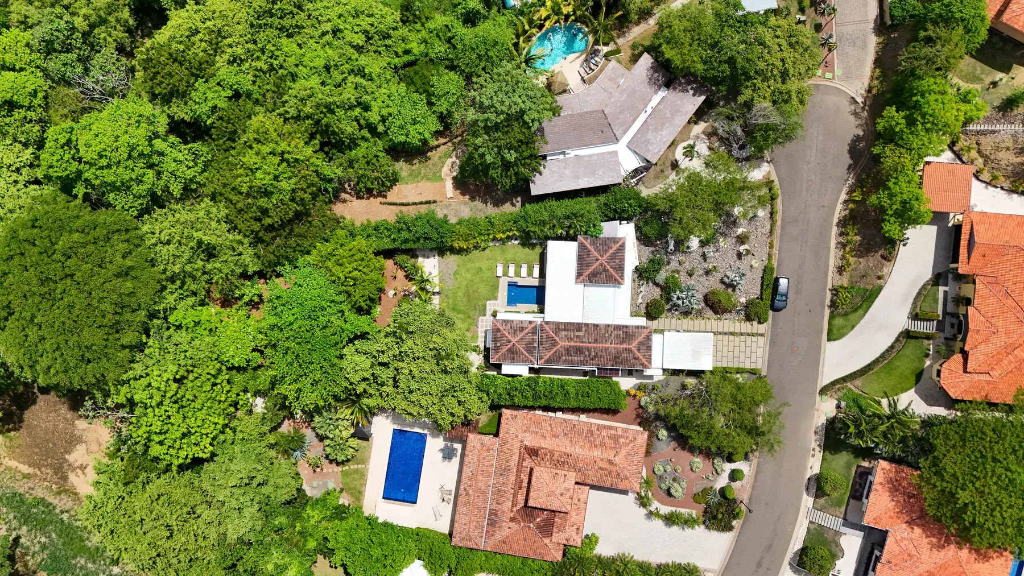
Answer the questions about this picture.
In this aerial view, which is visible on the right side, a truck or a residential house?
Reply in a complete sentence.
There is a residential house on the right side.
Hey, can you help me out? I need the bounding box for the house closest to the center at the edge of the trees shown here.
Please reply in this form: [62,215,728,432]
[486,220,663,376]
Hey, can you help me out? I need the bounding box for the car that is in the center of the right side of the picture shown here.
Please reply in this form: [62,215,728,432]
[773,277,791,311]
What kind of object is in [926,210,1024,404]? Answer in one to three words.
house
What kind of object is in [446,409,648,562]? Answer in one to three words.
house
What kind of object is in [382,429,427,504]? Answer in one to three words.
swimming pool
